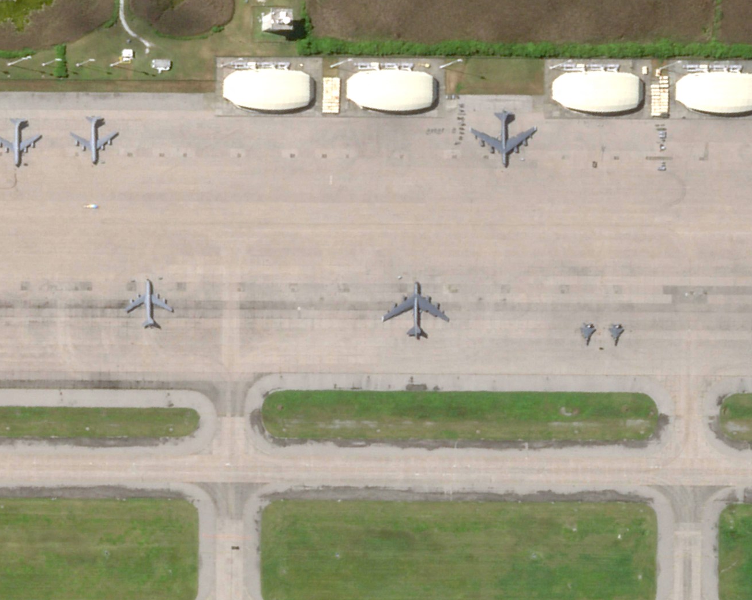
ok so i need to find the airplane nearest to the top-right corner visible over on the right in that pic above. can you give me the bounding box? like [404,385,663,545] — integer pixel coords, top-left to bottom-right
[472,109,538,165]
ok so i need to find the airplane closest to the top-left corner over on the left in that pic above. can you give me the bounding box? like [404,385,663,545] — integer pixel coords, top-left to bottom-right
[0,117,41,166]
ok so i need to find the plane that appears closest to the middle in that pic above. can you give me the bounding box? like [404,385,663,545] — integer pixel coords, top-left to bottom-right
[383,282,450,336]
